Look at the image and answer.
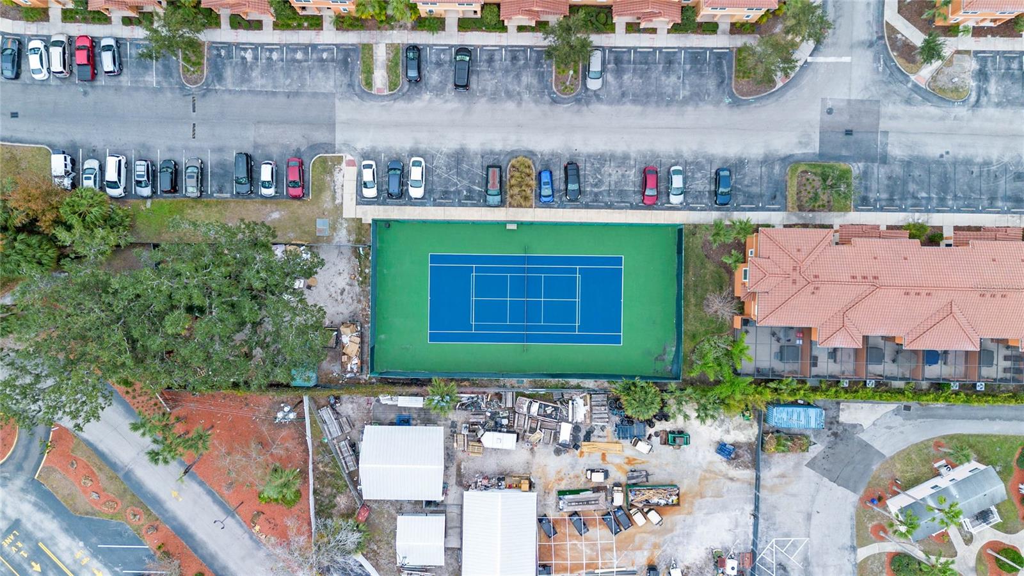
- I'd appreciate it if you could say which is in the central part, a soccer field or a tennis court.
tennis court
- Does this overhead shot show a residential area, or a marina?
residential area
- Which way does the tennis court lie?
horizontally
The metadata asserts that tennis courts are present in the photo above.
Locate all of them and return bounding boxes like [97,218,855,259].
[375,223,676,376]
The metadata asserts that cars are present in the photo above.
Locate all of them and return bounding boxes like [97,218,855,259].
[668,165,686,205]
[641,165,659,206]
[404,46,421,83]
[134,159,157,198]
[105,154,129,197]
[184,158,204,198]
[233,152,254,195]
[259,160,278,197]
[714,167,733,206]
[453,47,472,92]
[586,48,604,90]
[49,34,74,78]
[485,165,502,206]
[28,40,52,81]
[286,158,305,198]
[563,159,582,202]
[408,157,425,199]
[386,160,404,199]
[51,149,75,189]
[159,160,179,193]
[538,169,554,204]
[0,39,23,79]
[100,37,123,76]
[360,160,379,198]
[82,156,104,194]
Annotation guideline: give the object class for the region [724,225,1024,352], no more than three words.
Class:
house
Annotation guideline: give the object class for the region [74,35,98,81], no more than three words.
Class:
truck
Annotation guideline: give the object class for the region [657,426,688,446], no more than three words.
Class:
work vehicle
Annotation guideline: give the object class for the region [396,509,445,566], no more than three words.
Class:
shed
